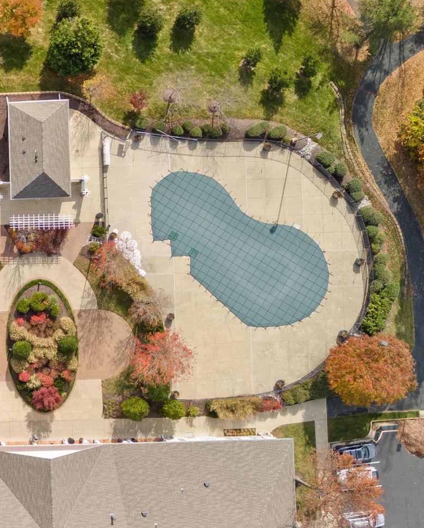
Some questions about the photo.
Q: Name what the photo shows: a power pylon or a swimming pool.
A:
swimming pool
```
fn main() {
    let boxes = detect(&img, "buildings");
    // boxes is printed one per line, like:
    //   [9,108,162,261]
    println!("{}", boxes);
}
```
[0,436,295,528]
[8,100,71,200]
